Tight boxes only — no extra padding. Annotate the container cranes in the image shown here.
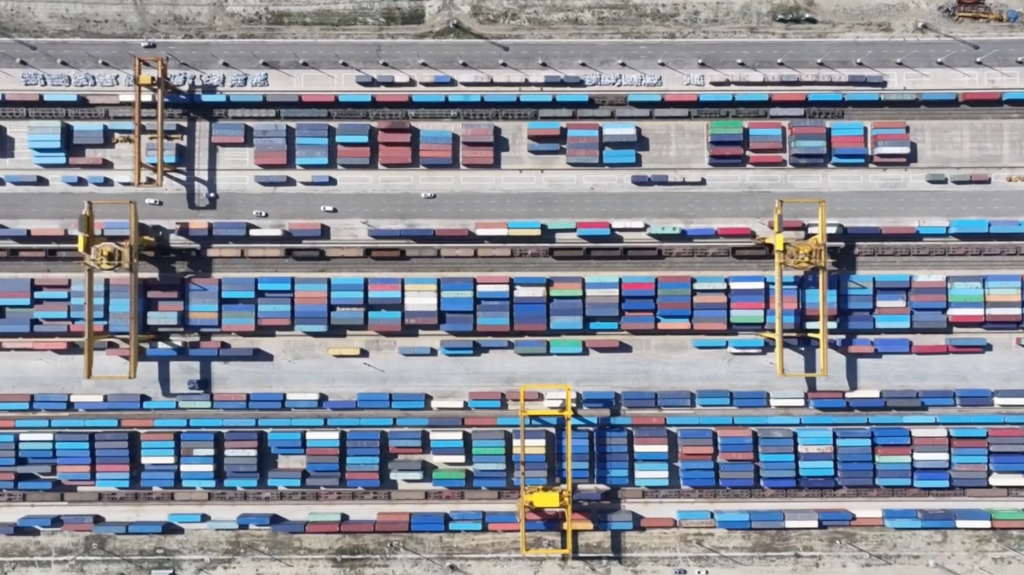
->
[756,199,827,376]
[133,57,183,186]
[515,385,572,556]
[77,201,164,379]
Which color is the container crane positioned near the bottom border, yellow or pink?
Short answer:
yellow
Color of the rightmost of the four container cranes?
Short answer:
yellow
